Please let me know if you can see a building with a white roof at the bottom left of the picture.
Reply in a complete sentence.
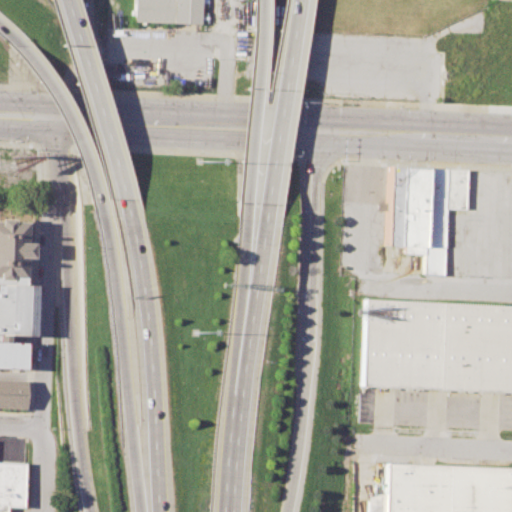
Yes, a building with a white roof can be seen at the bottom left of the picture.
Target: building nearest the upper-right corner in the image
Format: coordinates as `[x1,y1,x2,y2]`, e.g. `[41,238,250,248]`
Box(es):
[394,168,470,276]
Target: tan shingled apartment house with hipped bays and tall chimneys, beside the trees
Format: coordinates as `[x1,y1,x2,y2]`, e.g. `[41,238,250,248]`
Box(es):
[0,220,40,284]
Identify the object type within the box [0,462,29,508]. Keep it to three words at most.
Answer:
building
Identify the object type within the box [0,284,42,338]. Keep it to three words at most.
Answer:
building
